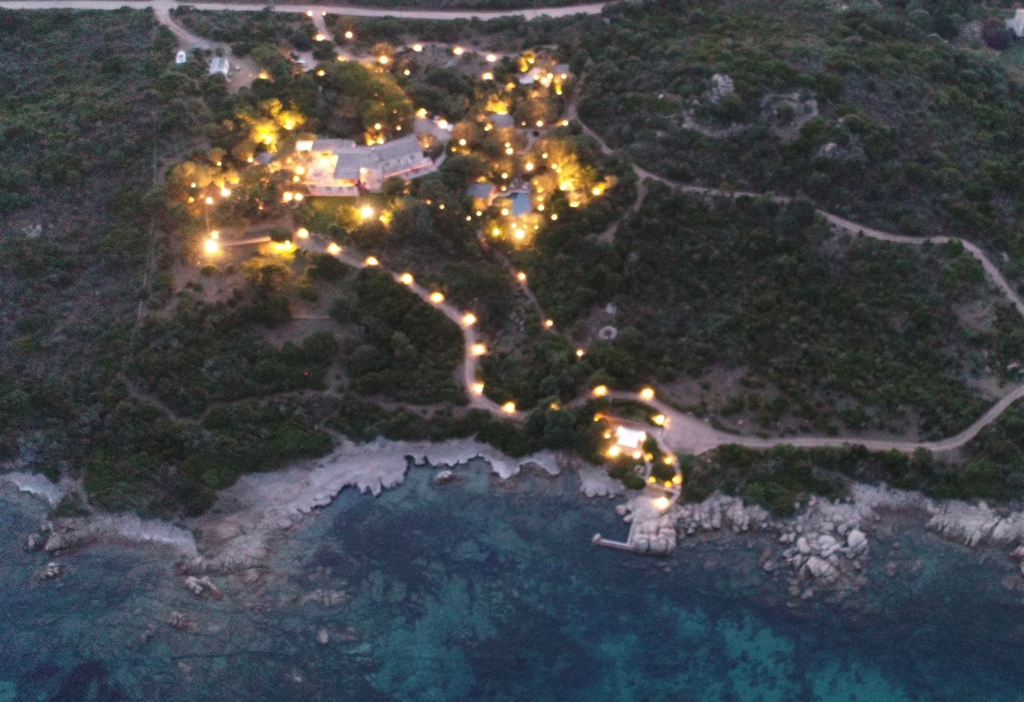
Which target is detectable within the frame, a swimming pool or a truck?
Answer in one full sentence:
Visible in the photo is a swimming pool.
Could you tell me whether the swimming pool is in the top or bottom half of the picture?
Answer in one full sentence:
The top half of the photo is where the swimming pool is.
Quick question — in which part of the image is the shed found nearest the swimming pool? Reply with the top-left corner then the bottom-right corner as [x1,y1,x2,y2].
[467,184,494,206]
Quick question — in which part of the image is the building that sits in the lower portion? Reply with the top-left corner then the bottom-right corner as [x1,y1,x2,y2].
[611,426,651,460]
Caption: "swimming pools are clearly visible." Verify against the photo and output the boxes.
[509,192,533,225]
